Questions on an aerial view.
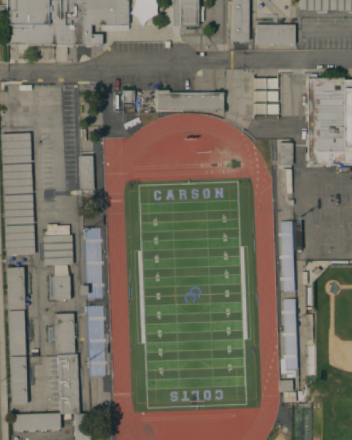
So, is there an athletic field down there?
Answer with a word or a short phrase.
Yes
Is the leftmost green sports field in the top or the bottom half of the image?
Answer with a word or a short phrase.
bottom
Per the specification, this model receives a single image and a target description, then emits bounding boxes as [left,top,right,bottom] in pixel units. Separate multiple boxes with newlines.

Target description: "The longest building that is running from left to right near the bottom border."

[14,414,62,431]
